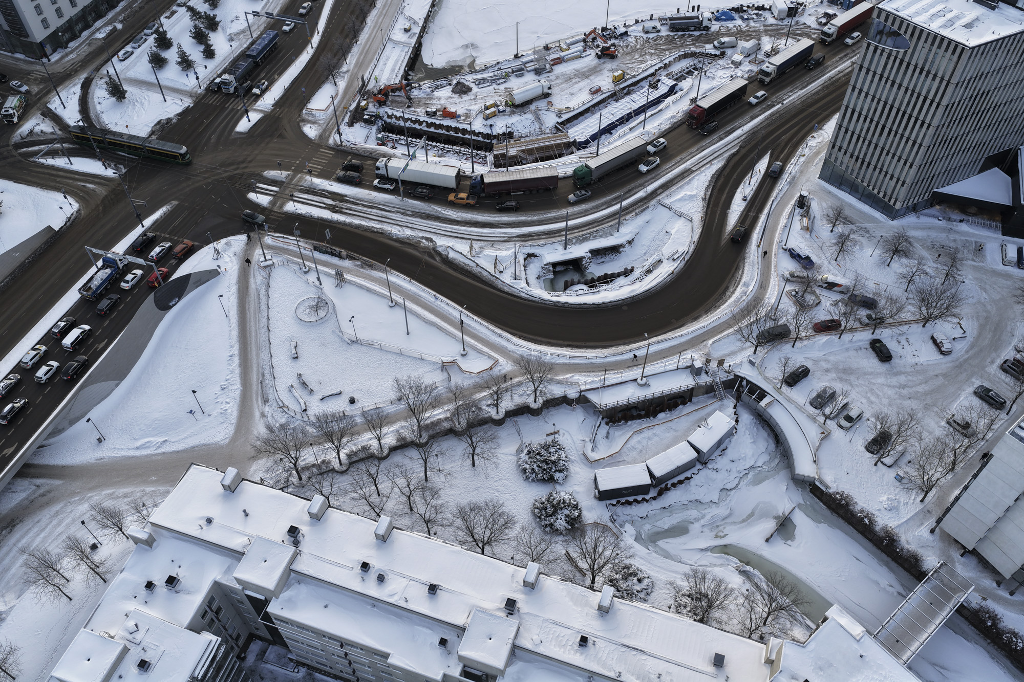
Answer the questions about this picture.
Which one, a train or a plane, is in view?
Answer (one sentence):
Looking from above, you can make out a train.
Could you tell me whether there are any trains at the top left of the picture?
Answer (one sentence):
Yes, there is a train at the top left of the picture.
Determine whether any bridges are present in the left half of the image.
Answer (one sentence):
Yes, a bridge shows up in the left half of the image.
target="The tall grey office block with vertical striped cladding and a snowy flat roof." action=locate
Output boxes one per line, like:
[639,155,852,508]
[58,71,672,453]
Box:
[819,0,1024,219]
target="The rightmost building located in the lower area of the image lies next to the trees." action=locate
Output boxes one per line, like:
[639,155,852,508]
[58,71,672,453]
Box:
[930,412,1024,597]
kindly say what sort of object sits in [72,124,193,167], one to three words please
train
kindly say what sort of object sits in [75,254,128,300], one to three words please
truck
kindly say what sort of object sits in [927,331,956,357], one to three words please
car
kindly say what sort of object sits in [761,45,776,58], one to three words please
vehicle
